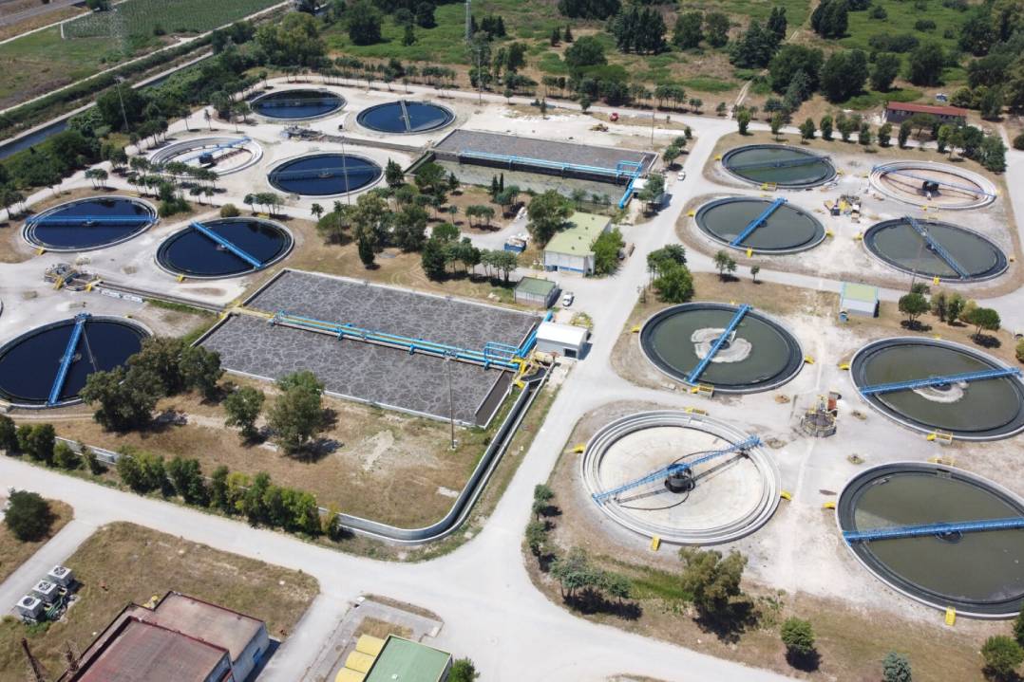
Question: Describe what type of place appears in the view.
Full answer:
The picture captures an industrial area.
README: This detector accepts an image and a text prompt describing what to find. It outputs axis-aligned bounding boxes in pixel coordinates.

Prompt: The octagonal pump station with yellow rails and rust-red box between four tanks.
[798,391,838,439]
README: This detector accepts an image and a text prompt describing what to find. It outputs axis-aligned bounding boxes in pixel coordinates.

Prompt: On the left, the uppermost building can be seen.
[278,124,322,141]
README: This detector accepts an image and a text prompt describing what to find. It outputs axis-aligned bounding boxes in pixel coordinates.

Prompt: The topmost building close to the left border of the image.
[32,259,97,291]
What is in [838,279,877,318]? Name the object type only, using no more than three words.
shed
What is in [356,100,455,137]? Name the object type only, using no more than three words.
storage tank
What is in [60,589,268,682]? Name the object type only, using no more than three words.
building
